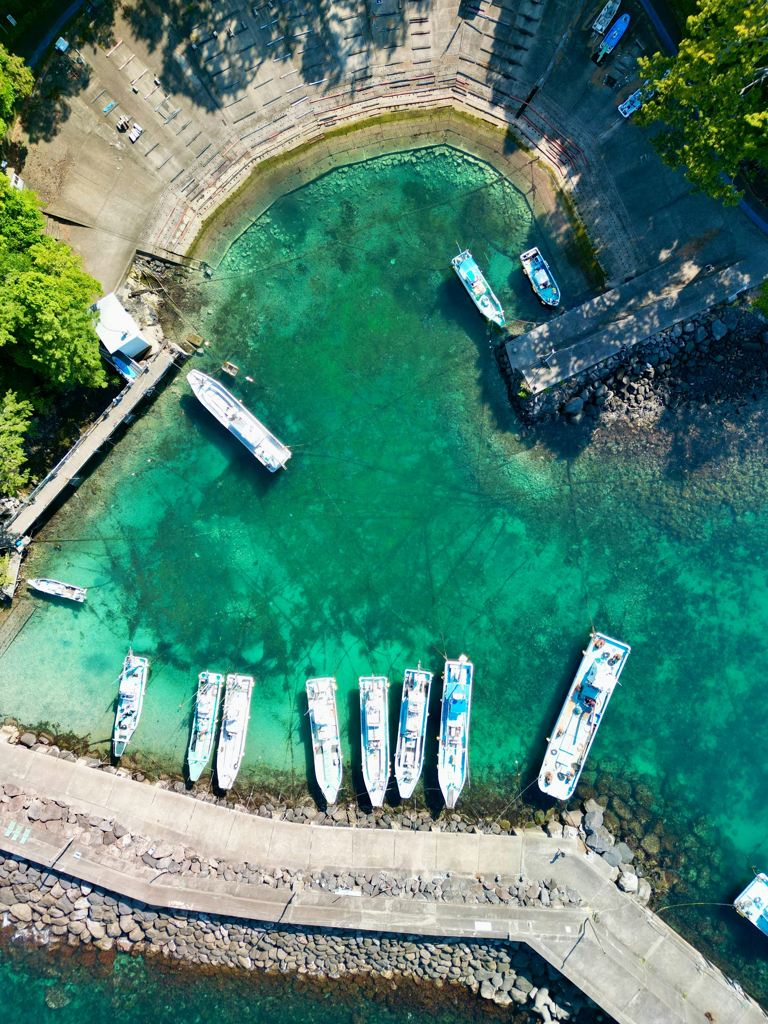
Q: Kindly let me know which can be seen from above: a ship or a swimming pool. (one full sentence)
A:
I can see a ship in this picture.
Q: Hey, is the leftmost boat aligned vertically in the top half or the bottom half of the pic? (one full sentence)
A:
The bottom half of the photo is where the leftmost boat aligned vertically is.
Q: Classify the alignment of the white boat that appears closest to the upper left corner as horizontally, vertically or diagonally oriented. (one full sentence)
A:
Seen from above, the white boat that appears closest to the upper left corner lies diagonally.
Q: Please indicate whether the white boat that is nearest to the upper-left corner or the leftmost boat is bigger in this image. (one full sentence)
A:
Compared with the leftmost boat, the white boat that is nearest to the upper-left corner is the bigger one.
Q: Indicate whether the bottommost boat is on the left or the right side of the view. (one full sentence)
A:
You can find the bottommost boat on the right side of the picture.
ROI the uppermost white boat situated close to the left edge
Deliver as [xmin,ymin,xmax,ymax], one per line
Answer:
[28,578,89,602]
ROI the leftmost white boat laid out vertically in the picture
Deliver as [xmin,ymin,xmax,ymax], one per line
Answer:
[111,646,150,756]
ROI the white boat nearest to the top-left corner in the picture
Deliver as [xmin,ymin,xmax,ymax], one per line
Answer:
[187,369,292,473]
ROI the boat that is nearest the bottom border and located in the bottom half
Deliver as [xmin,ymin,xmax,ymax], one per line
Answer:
[729,868,768,936]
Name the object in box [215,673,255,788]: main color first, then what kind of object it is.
white boat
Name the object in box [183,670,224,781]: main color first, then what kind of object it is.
white boat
